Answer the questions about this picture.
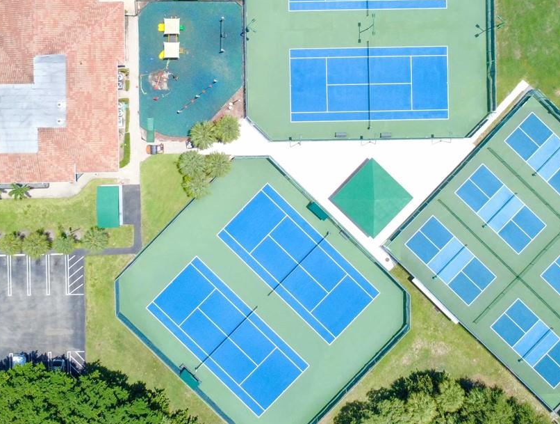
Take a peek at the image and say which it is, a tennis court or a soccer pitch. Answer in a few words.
tennis court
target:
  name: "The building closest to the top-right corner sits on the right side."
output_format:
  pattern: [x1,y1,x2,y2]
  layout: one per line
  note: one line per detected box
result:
[332,158,413,239]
